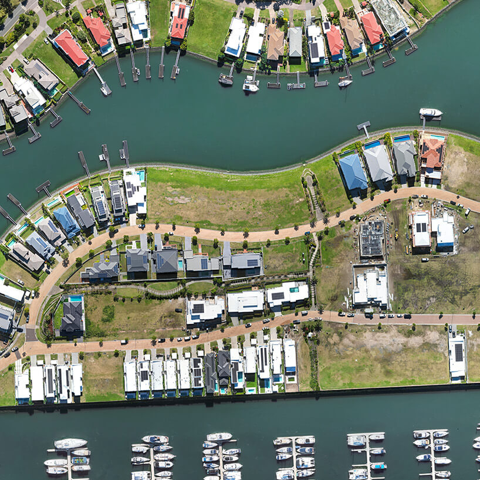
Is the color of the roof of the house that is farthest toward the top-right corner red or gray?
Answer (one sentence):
In this view, the roof of the house that is farthest toward the top-right corner is red.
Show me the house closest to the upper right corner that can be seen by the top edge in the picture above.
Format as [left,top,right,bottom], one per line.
[360,11,385,46]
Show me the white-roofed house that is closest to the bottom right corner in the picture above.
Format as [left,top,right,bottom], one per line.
[449,338,465,377]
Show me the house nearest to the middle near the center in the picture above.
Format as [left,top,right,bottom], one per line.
[223,253,263,269]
